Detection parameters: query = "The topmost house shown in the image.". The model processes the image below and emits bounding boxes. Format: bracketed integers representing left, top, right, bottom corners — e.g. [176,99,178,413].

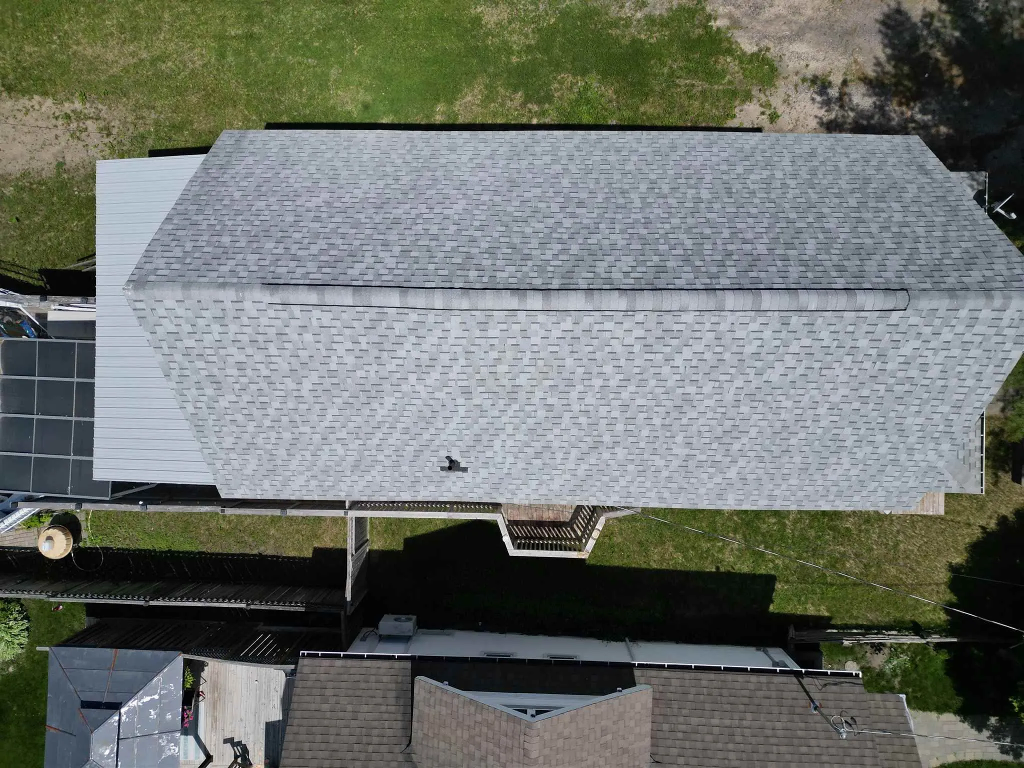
[121,128,1024,514]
